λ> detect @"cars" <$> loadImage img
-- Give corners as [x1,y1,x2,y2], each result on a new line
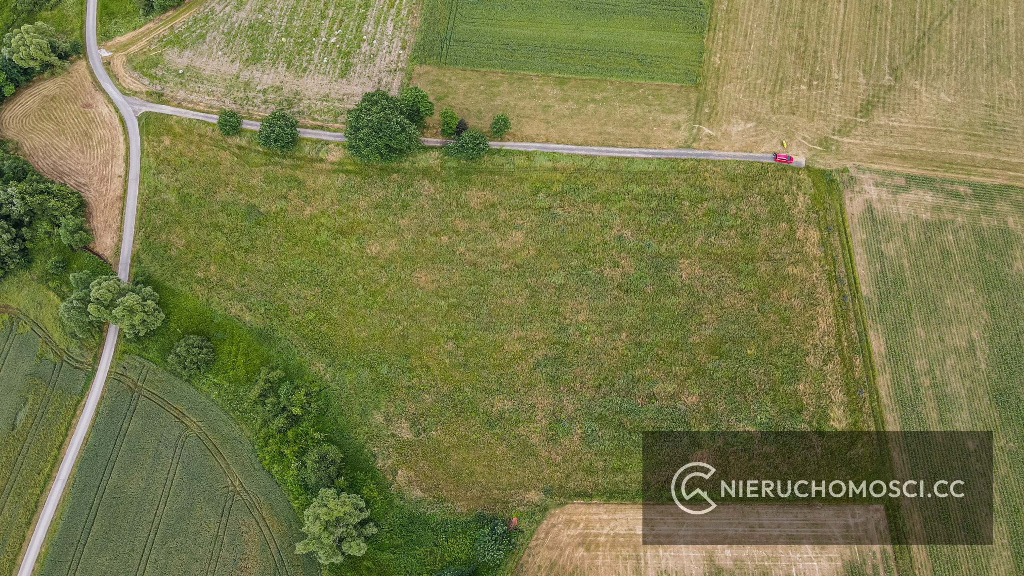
[774,152,795,164]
